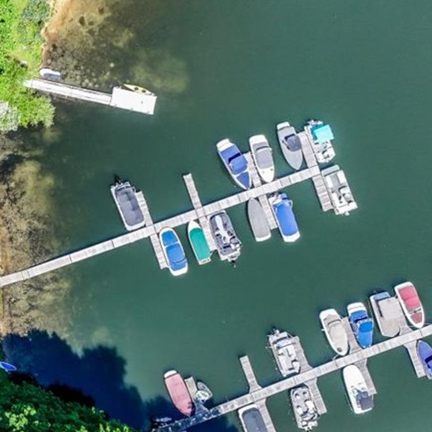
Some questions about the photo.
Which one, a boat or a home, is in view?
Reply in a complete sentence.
The image shows a boat.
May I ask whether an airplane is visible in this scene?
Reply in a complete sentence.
No, no airplane is visible in the view.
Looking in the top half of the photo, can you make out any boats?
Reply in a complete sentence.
Yes, the scene does show a boat in the top half of the photo.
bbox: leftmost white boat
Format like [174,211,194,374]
[40,68,62,81]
